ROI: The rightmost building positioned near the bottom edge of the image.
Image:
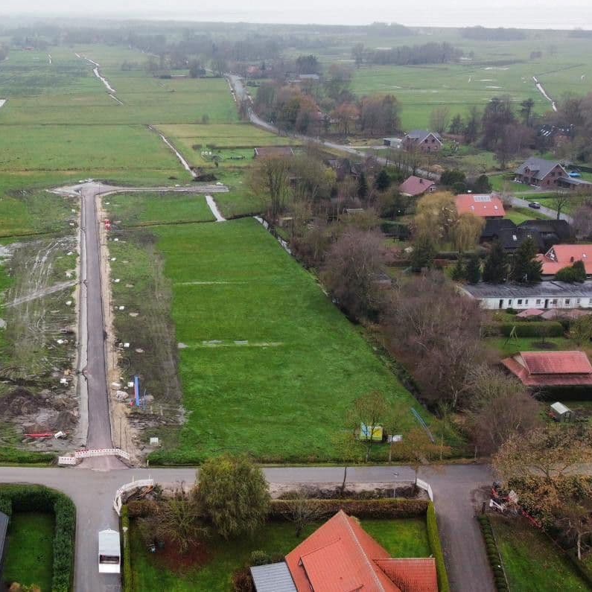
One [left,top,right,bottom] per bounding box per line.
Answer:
[274,507,450,592]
